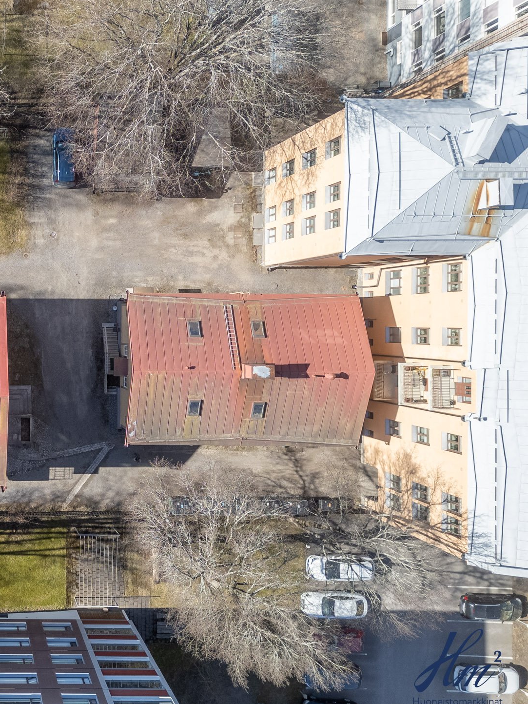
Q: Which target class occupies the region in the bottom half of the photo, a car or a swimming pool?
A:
car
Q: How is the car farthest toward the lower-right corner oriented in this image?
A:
horizontally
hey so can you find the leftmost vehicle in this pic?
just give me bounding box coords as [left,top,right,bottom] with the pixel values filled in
[49,126,78,189]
